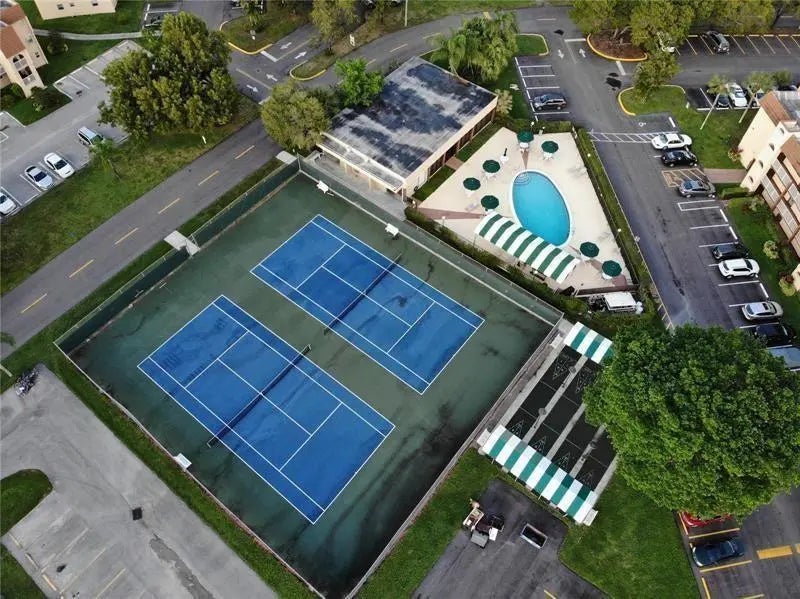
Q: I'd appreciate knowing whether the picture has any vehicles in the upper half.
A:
Yes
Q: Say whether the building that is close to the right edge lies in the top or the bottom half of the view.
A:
top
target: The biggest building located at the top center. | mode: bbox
[312,60,499,207]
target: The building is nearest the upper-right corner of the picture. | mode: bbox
[734,86,800,249]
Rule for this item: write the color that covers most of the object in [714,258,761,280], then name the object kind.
white car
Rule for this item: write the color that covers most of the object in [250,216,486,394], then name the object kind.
blue tennis court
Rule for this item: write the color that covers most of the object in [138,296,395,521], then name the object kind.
blue tennis court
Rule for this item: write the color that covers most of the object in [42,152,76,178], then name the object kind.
white car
